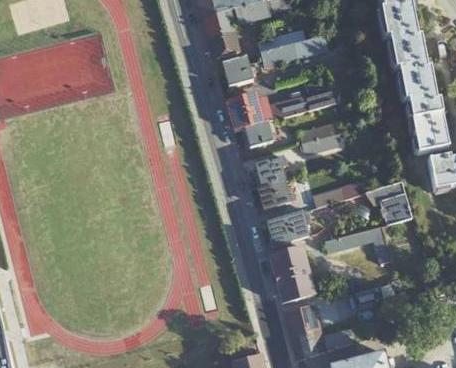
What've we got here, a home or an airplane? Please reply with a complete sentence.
Visible in the photo is a home.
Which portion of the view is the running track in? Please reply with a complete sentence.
You can find the running track in the left area of the picture.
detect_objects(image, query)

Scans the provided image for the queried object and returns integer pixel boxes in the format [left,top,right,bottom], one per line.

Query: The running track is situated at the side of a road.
[0,0,202,361]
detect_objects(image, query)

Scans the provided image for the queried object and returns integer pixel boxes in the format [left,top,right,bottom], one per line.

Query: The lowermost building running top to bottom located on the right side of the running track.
[298,304,322,350]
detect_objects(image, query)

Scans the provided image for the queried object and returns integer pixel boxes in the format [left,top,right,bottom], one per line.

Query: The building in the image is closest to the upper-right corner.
[380,0,451,156]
